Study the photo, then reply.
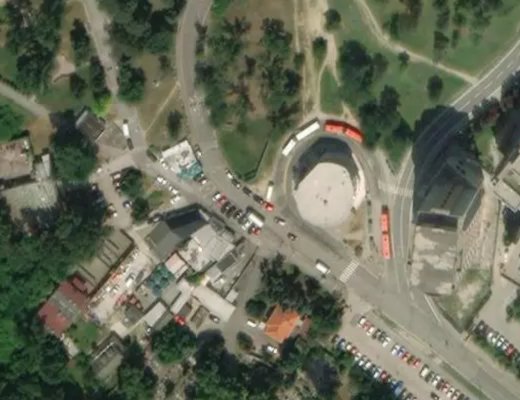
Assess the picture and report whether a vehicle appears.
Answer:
Yes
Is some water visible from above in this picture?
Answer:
No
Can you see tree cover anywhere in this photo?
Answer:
Yes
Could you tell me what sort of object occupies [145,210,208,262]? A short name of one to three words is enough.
building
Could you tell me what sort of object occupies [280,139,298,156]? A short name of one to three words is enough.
vehicle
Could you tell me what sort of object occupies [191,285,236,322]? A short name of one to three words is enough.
shed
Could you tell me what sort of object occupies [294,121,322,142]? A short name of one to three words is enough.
bus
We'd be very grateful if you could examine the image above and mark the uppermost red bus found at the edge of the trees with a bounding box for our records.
[324,122,364,144]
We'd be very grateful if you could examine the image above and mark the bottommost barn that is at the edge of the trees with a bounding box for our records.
[89,332,122,385]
